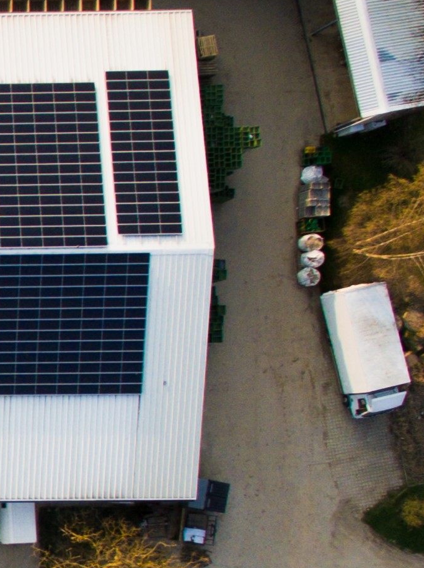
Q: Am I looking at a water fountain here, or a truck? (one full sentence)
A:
This aerial view contains a truck.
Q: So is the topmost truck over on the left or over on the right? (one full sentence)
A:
It is on the right.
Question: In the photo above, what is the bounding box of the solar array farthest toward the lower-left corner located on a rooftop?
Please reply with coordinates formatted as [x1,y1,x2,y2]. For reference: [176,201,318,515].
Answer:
[0,254,150,394]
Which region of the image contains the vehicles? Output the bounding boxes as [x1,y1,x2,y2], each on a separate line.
[318,283,404,421]
[0,502,34,543]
